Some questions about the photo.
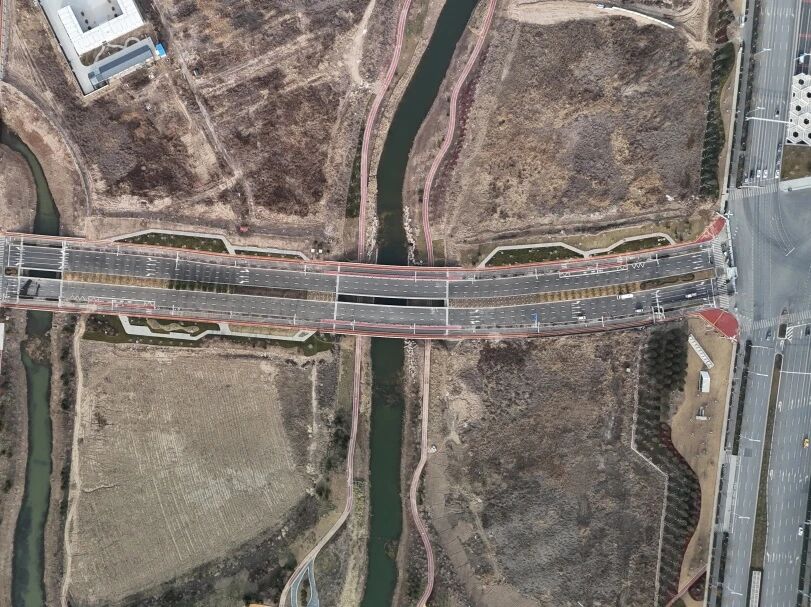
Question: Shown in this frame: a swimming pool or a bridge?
bridge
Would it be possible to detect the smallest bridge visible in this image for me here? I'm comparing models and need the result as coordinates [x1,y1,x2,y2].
[19,232,63,308]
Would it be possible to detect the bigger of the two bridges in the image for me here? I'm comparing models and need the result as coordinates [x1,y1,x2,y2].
[336,262,447,340]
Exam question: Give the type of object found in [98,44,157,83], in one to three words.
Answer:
shed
